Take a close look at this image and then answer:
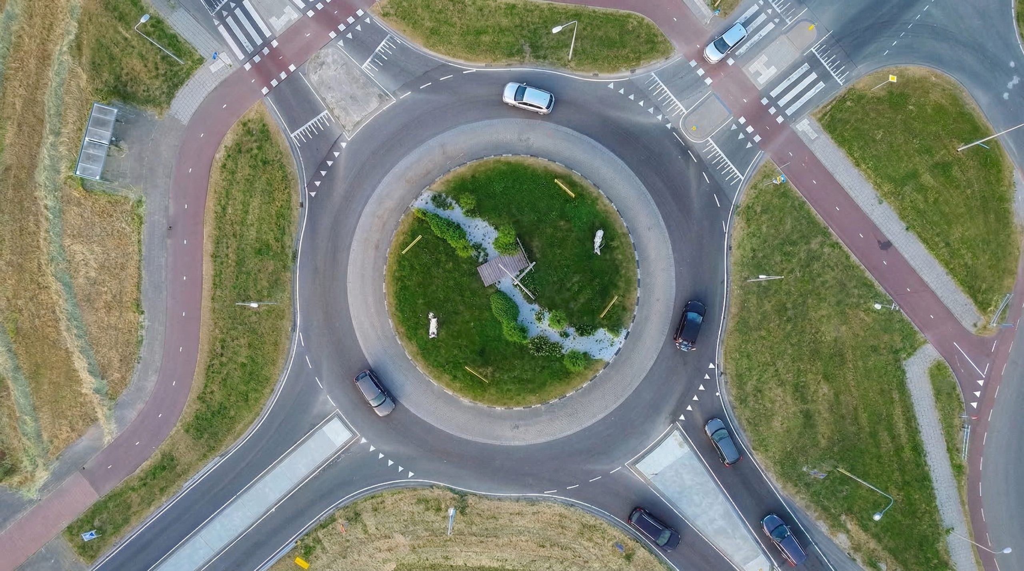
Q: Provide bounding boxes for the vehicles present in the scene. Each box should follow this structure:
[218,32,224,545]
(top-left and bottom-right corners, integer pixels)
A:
[627,505,680,552]
[761,513,809,568]
[703,417,744,468]
[674,301,706,355]
[702,20,751,66]
[503,82,555,116]
[353,368,396,416]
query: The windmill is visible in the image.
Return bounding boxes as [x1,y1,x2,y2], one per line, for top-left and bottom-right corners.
[497,261,536,301]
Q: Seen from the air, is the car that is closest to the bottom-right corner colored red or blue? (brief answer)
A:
blue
